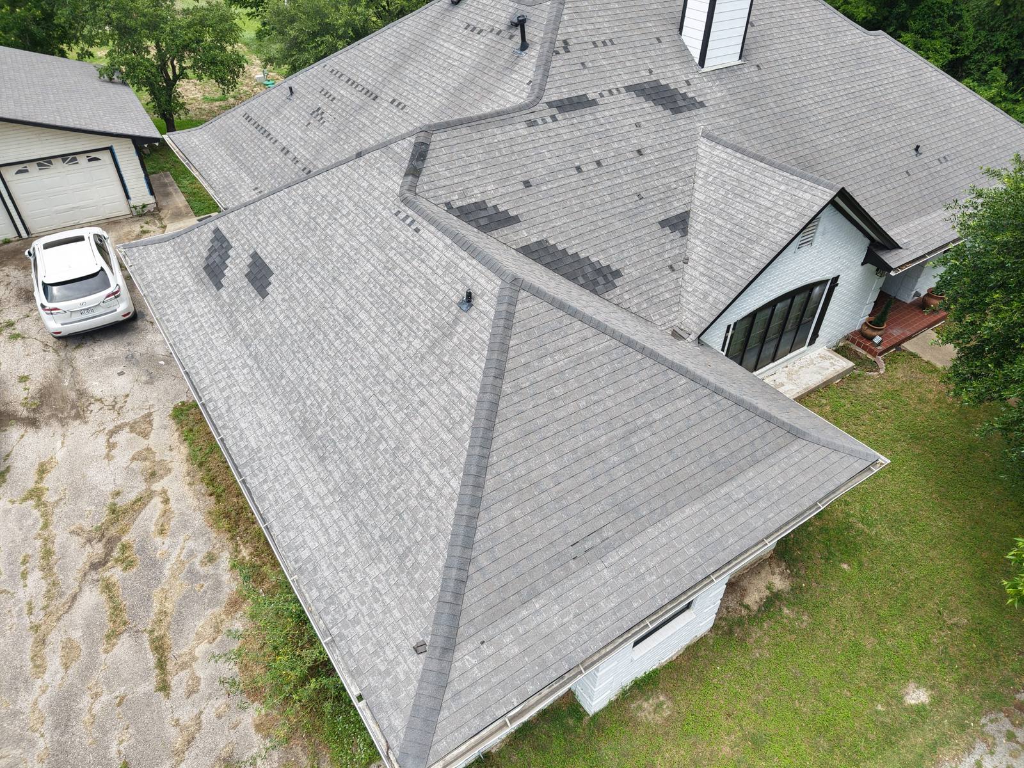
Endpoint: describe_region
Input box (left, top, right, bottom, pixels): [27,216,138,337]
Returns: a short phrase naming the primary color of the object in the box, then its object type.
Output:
white car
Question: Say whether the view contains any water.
No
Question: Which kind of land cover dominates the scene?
buildings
